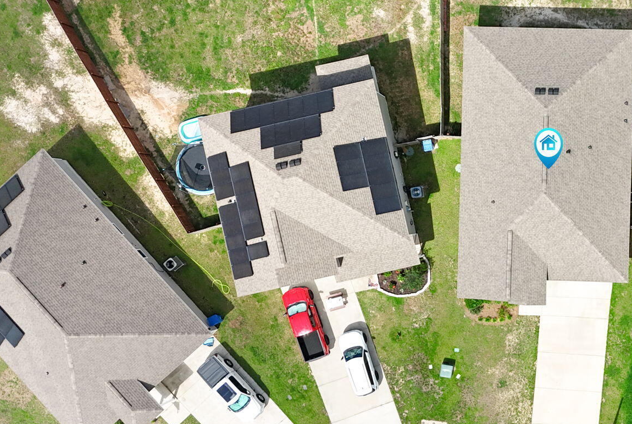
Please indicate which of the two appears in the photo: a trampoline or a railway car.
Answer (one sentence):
The one in the frame is a trampoline.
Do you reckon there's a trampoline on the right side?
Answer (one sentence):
No, there is no trampoline on the right side.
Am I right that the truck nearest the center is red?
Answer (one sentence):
Yes, the truck nearest the center is indeed red.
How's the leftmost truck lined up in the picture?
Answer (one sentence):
In this picture, the leftmost truck is oriented at an angle.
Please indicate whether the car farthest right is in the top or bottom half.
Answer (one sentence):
The bottom half of the photo is where the car farthest right is.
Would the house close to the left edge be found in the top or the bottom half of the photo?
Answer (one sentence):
It is in the bottom half that the house close to the left edge appears.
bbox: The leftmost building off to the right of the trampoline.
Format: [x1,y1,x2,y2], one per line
[198,55,423,297]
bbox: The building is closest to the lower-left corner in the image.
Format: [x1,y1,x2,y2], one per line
[0,149,221,424]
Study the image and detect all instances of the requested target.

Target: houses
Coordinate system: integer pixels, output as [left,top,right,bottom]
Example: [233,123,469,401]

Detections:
[0,149,221,424]
[198,55,423,297]
[457,25,632,306]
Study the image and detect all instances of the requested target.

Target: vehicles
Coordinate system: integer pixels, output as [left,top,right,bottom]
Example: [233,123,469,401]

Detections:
[341,327,379,395]
[286,282,331,361]
[197,349,269,423]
